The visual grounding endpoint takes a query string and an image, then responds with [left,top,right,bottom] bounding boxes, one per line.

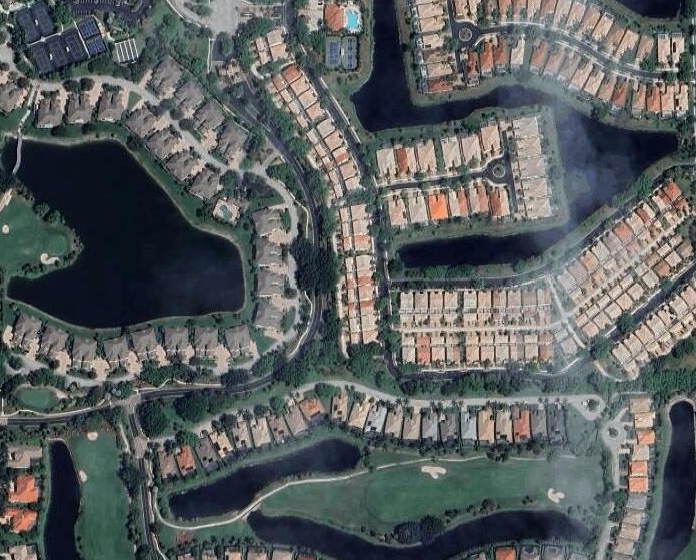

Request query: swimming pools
[213,200,239,225]
[344,4,361,34]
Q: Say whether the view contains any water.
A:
Yes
